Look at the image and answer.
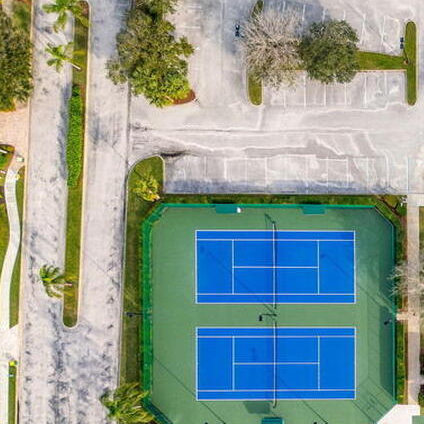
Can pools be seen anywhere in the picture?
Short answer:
No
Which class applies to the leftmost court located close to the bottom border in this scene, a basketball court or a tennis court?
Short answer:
tennis court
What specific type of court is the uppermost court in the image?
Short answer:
tennis court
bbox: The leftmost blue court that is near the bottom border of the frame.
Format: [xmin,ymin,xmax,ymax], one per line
[196,322,355,407]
